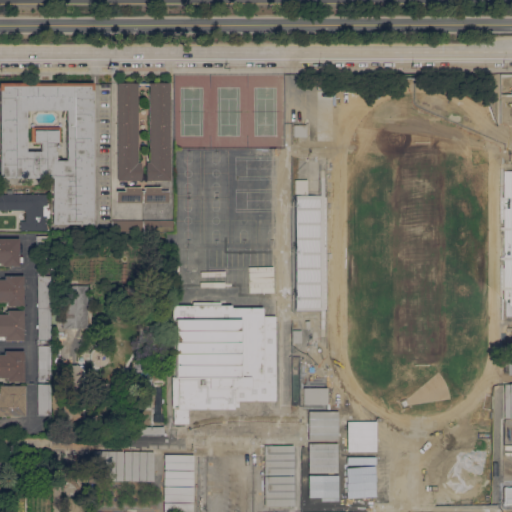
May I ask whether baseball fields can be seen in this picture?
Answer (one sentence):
Yes, you can see a baseball field in this photo.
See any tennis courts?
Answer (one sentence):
Yes, the image includes a tennis court.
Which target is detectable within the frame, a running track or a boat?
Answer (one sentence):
I can see a running track in this picture.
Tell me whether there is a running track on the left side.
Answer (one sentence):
No, no running track can be made out on the left side.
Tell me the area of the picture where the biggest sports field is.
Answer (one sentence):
The biggest sports field is located in the right region of the scene.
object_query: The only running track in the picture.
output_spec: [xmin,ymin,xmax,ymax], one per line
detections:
[335,111,499,427]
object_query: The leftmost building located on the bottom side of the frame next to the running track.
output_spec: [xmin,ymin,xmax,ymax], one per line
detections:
[172,302,276,426]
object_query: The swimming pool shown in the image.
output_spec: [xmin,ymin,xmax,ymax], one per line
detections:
[34,112,56,124]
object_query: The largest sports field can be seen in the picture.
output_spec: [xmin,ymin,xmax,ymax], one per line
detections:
[347,147,487,415]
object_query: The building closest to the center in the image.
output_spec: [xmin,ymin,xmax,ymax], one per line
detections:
[249,267,274,294]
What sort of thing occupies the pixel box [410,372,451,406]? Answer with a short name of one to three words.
baseball field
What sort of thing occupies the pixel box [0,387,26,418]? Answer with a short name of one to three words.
house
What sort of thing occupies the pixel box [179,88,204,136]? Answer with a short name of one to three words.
tennis court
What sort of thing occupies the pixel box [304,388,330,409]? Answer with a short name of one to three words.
building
